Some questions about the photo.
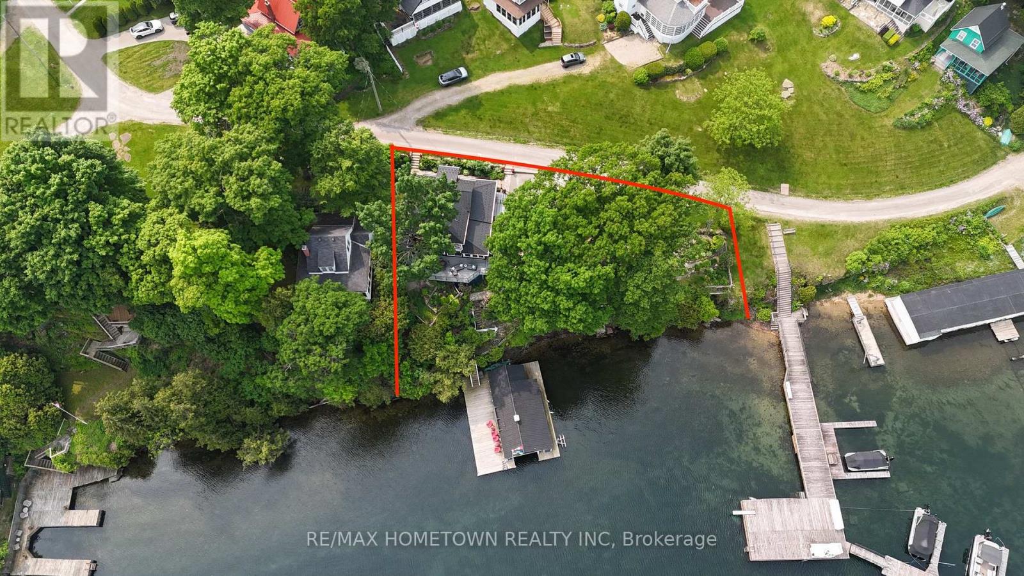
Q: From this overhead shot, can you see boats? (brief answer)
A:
Yes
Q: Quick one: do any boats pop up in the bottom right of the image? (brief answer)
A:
Yes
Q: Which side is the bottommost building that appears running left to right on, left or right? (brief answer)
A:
right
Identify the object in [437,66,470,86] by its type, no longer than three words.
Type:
car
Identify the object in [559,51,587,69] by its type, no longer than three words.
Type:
car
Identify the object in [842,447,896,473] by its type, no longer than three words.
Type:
boat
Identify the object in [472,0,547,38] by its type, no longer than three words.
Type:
house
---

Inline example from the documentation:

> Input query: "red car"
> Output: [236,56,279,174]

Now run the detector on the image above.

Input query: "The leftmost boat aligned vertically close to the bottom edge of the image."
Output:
[905,506,943,568]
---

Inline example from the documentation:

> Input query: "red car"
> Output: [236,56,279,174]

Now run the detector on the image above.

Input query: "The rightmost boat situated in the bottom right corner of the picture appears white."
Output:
[965,535,1010,576]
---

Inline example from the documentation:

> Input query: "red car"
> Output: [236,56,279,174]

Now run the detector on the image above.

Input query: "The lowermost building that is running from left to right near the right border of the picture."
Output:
[879,265,1024,349]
